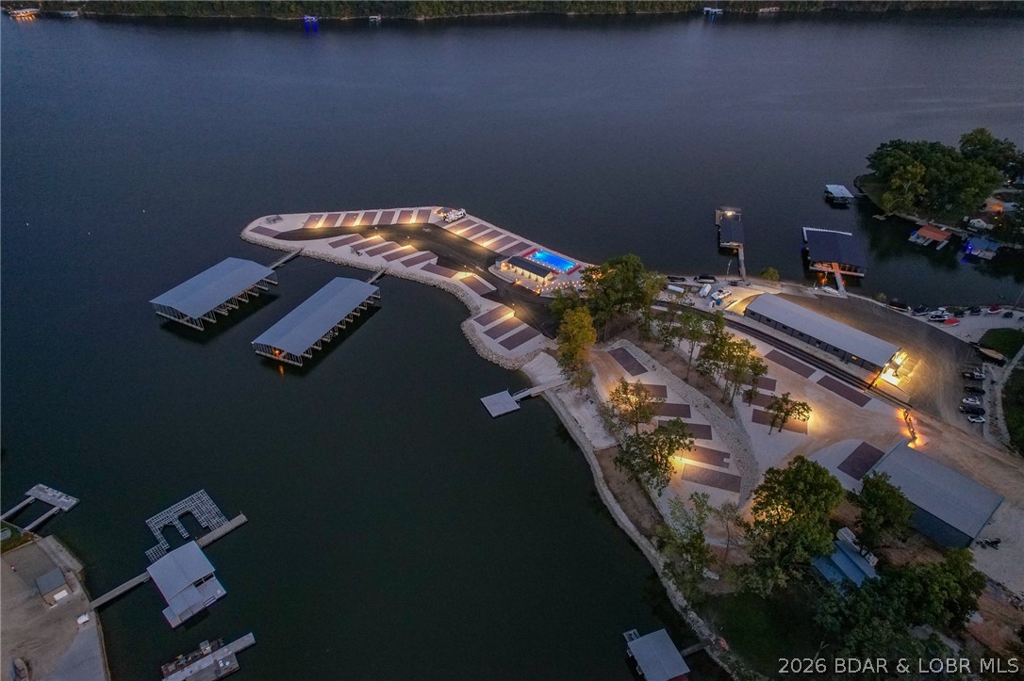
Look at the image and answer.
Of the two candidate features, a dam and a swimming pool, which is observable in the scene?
swimming pool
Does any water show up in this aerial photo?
Yes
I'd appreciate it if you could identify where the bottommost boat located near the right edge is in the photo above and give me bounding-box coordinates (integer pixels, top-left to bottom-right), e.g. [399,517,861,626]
[984,345,1010,364]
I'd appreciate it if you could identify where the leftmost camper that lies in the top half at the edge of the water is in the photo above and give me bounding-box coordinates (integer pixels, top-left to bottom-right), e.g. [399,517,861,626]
[446,206,467,222]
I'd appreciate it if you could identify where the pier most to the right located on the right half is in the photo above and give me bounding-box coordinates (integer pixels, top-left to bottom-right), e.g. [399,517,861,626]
[966,237,1000,266]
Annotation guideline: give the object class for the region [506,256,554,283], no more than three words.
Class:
building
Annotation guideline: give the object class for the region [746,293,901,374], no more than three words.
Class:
building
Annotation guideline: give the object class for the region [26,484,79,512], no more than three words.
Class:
pier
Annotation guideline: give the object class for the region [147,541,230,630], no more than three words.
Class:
pier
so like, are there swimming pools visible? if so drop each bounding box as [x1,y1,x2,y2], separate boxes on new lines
[529,247,579,271]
